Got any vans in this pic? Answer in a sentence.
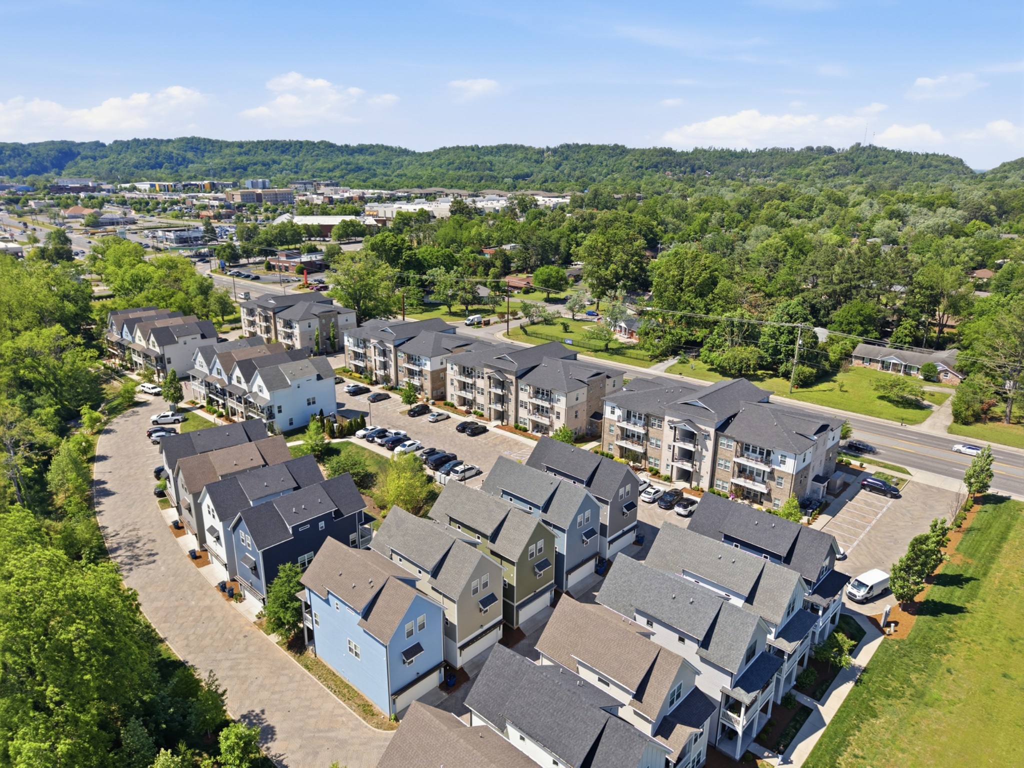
Yes, looking at the shot, I can spot a van.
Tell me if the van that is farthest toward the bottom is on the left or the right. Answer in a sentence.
The van that is farthest toward the bottom is on the right side of the image.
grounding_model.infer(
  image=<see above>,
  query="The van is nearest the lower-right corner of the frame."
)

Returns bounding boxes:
[851,563,892,603]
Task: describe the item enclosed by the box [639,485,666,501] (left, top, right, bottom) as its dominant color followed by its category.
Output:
white car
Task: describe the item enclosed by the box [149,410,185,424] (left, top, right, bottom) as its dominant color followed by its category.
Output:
white vehicle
